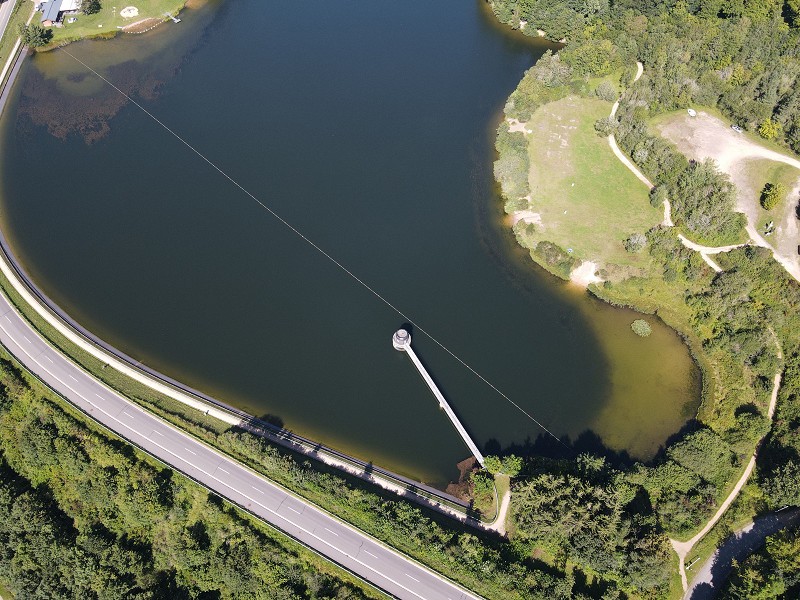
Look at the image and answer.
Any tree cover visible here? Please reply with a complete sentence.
Yes, there is tree cover in the image.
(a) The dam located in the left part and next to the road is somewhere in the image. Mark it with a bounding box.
[0,227,508,541]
